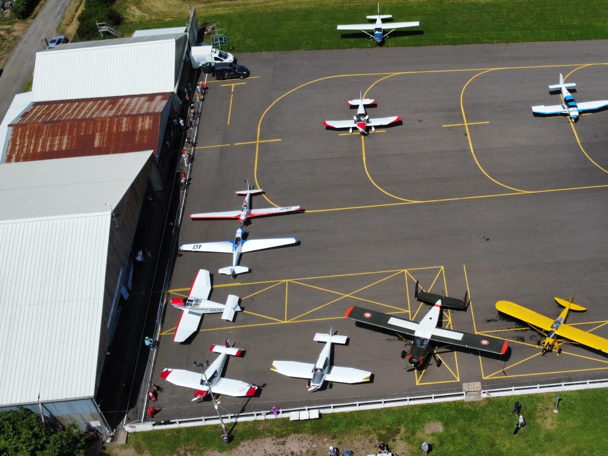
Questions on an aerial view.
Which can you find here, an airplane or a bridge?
airplane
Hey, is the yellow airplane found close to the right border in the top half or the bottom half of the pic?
bottom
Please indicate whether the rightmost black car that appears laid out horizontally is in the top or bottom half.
top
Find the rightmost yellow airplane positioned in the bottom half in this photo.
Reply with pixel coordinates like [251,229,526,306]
[497,295,608,354]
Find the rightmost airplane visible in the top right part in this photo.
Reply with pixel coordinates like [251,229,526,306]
[531,76,608,127]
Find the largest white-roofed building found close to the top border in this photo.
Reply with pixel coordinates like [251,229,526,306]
[29,3,207,123]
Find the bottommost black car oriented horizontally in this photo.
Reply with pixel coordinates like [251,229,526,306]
[200,60,246,80]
